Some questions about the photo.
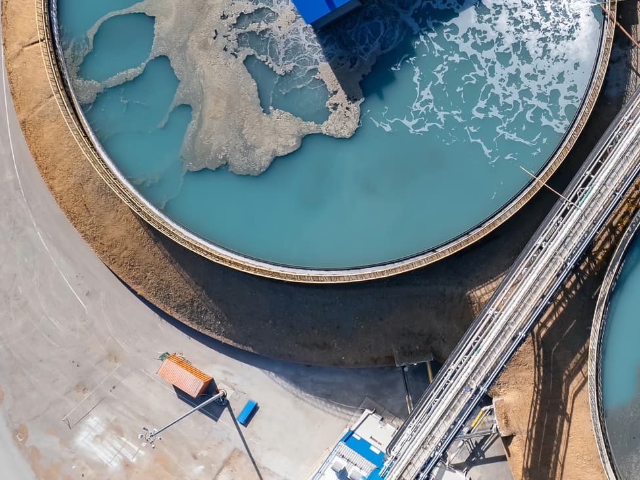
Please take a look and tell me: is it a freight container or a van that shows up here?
freight container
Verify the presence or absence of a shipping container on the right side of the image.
No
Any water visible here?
Yes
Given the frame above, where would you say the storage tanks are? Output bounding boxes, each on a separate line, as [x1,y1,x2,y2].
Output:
[583,199,640,480]
[34,0,618,285]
